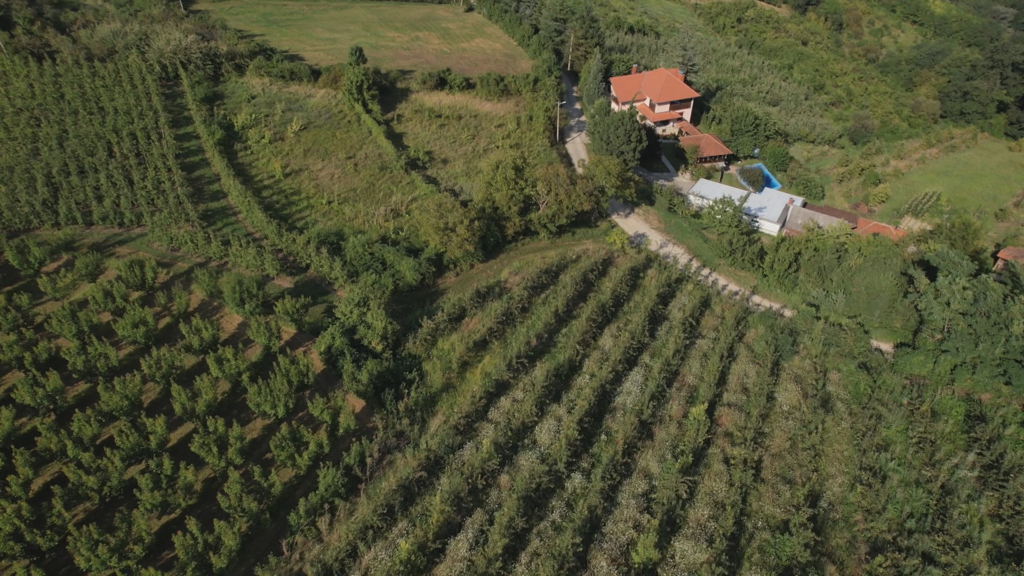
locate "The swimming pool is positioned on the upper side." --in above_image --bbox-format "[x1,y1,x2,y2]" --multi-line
[736,163,783,194]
